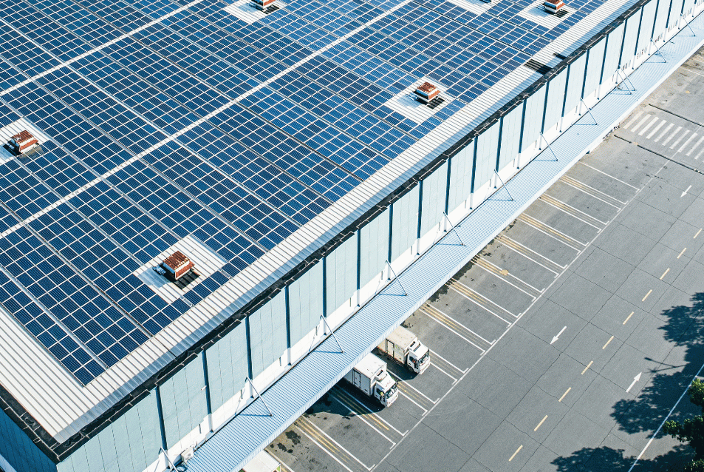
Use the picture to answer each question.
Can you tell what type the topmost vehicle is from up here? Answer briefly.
truck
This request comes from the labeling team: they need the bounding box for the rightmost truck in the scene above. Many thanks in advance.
[374,319,435,377]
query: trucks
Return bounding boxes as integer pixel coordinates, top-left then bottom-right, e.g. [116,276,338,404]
[342,350,403,409]
[374,319,435,377]
[233,445,280,472]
